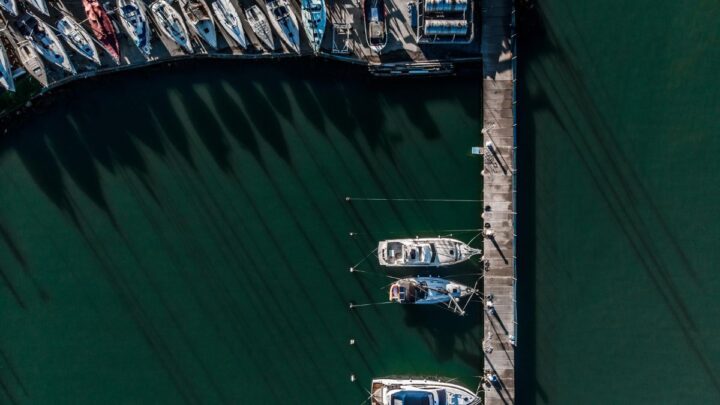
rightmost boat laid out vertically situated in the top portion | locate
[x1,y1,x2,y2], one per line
[363,0,387,52]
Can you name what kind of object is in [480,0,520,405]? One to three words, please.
pier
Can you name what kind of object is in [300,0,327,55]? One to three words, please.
boat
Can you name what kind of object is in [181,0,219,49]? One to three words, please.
boat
